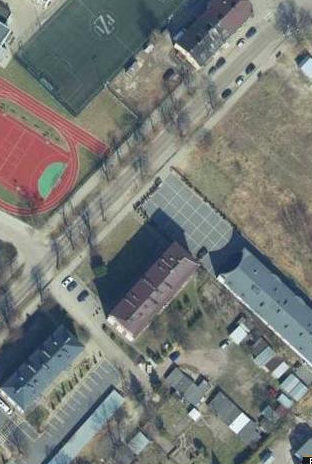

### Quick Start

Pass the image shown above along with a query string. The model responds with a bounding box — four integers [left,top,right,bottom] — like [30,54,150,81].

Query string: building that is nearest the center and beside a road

[110,242,201,340]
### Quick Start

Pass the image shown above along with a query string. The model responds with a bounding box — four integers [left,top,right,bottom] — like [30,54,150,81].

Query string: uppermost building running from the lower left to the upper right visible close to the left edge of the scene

[1,324,85,413]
